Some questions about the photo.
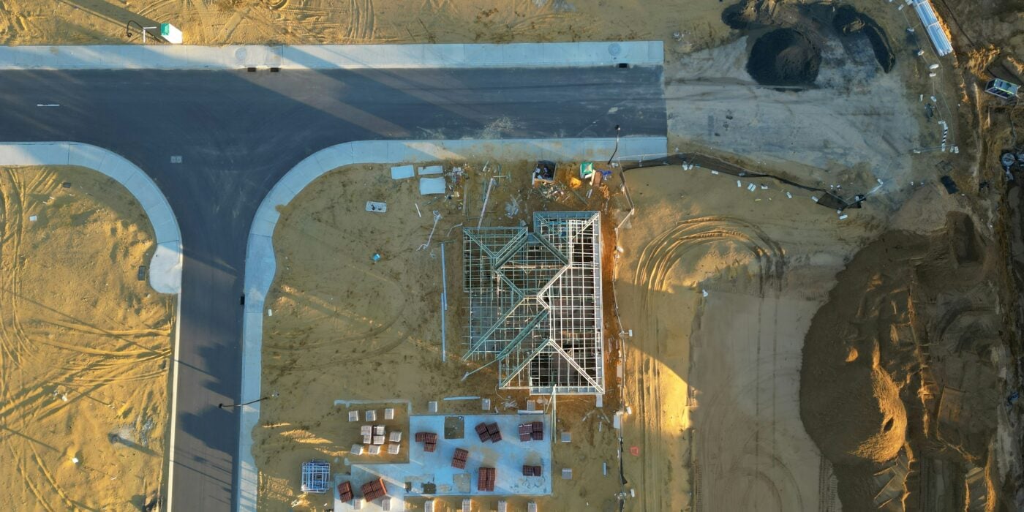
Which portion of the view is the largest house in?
center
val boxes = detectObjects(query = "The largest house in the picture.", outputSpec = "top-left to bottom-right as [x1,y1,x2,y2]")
[462,211,604,393]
